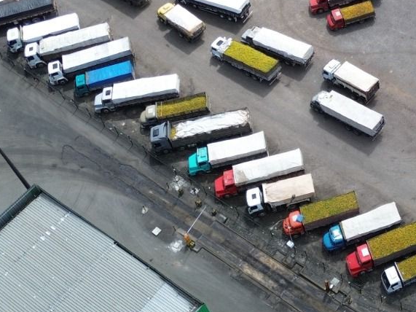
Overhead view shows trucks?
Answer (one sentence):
Yes, there's a truck here.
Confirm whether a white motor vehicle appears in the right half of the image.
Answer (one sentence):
Yes, there is a white motor vehicle in the right half of the image.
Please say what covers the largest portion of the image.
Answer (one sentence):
For the most part, this view shows paved ground.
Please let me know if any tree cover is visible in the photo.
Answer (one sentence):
No, there is no tree cover in the image.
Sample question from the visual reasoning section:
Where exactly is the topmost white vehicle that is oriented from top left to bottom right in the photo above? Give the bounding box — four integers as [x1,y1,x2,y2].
[156,0,208,43]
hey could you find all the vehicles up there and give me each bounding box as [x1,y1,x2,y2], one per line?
[315,203,402,262]
[6,13,86,59]
[275,191,360,245]
[376,254,416,298]
[313,90,385,143]
[70,60,139,104]
[303,0,377,19]
[208,149,307,205]
[156,0,208,43]
[174,0,253,24]
[25,22,117,72]
[183,132,272,181]
[0,0,61,33]
[322,58,381,105]
[152,109,255,158]
[319,1,376,36]
[210,38,281,84]
[242,174,318,220]
[339,223,416,281]
[134,95,213,134]
[241,27,316,72]
[47,38,140,90]
[90,74,185,118]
